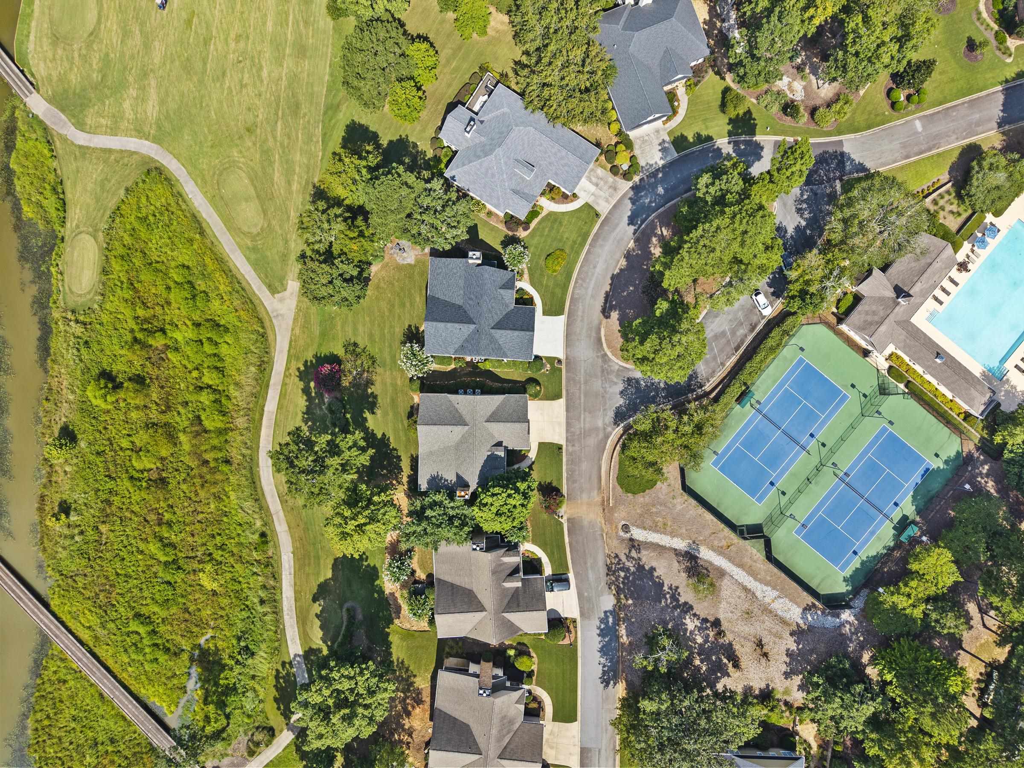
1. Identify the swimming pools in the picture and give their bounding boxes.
[928,216,1024,381]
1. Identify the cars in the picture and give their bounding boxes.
[777,245,798,272]
[749,289,771,316]
[546,579,572,594]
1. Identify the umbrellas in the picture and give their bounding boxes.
[970,237,987,251]
[981,225,997,240]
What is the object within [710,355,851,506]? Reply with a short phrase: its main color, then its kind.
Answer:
blue tennis court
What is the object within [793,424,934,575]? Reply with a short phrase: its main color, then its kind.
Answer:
blue tennis court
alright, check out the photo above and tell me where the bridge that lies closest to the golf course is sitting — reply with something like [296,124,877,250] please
[0,41,39,101]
